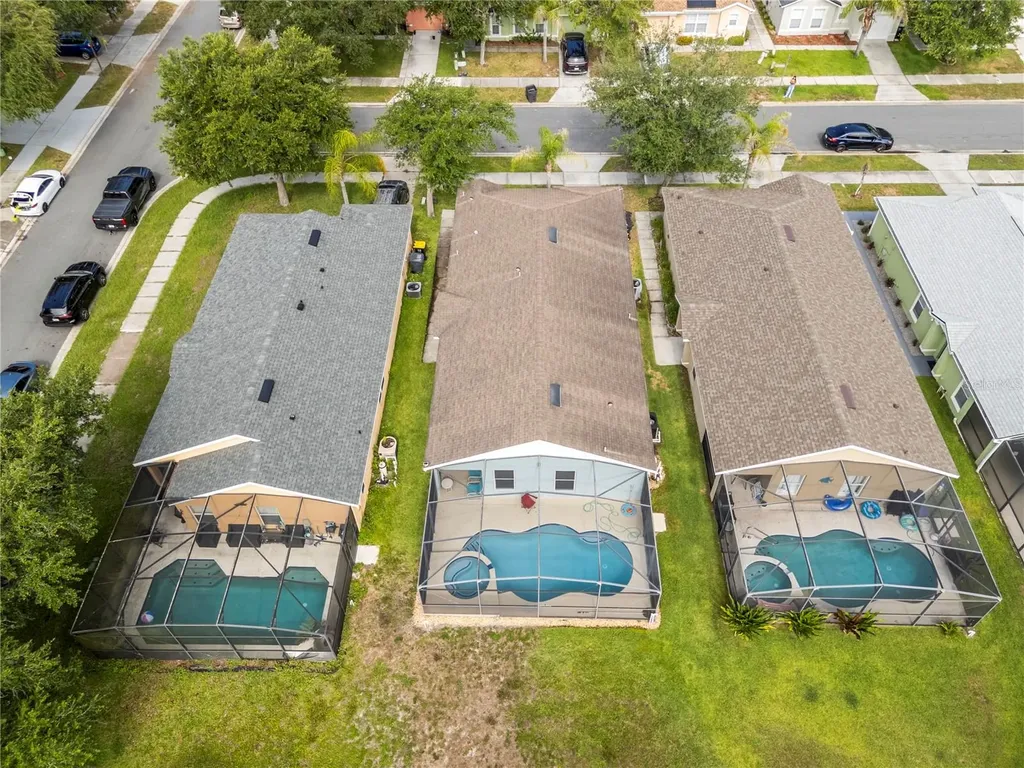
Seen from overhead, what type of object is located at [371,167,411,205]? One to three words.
car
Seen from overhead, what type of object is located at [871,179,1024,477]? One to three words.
house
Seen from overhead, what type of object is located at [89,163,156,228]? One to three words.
truck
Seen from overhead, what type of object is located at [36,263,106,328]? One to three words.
car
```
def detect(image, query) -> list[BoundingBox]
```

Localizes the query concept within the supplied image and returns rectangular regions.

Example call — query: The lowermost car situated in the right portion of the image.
[819,119,900,152]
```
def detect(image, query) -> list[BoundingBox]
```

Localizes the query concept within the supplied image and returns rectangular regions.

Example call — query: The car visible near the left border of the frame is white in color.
[0,166,64,215]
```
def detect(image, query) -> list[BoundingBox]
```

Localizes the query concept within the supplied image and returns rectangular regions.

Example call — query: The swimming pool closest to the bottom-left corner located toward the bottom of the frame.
[136,558,328,633]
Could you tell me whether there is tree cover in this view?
Yes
